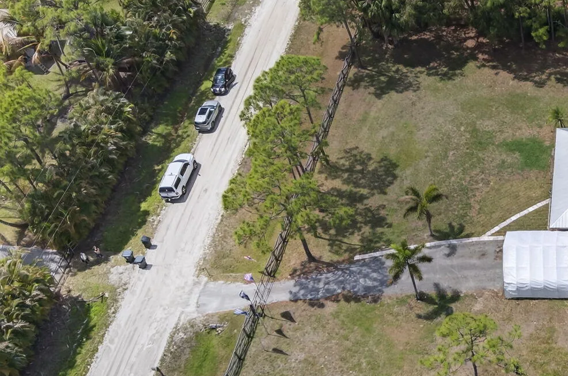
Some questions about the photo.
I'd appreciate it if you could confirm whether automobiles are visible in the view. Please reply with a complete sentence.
Yes, there is an automobile in the image.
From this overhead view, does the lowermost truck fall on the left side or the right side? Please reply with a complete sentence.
The lowermost truck sits on the left side.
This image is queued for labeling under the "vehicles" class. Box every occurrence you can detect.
[195,103,225,134]
[211,69,237,97]
[159,158,197,204]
